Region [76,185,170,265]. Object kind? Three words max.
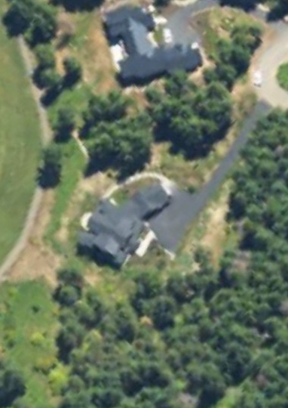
house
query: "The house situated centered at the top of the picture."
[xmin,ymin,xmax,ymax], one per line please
[105,0,203,83]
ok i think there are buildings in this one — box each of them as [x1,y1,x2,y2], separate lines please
[76,185,170,265]
[105,0,203,83]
